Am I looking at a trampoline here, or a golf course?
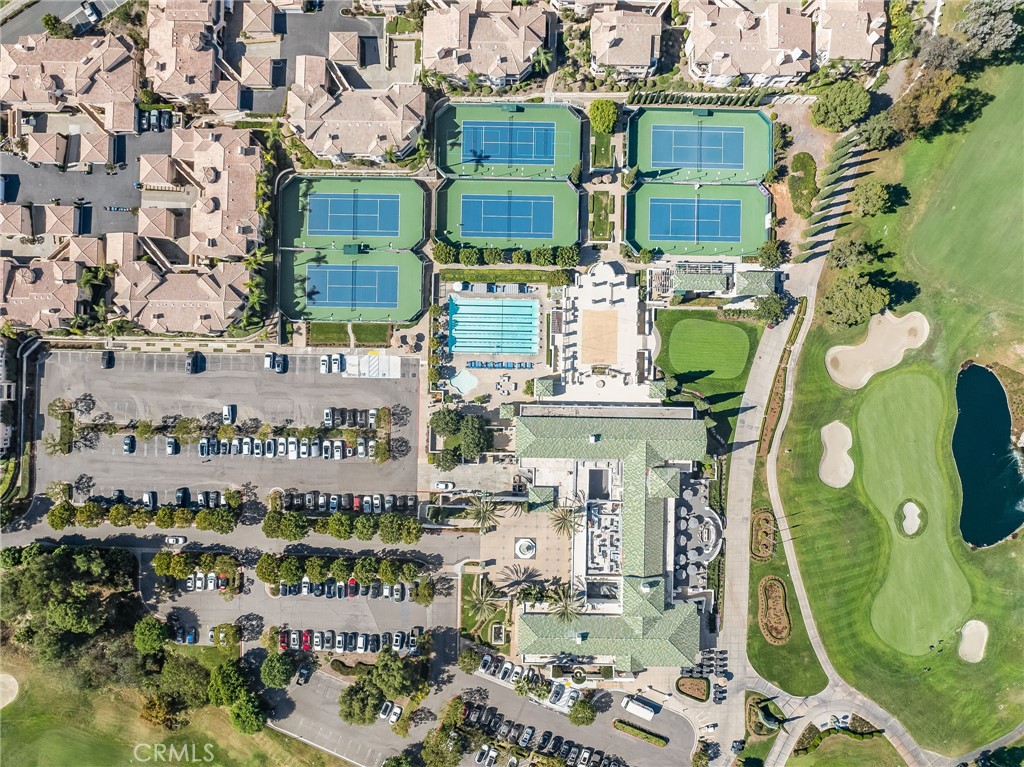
golf course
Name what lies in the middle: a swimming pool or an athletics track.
swimming pool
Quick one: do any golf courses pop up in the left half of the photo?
No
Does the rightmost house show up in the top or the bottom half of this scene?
top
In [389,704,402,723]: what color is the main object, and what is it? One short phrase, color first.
white vehicle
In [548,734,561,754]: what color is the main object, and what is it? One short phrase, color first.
black vehicle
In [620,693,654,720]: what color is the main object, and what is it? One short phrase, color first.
white vehicle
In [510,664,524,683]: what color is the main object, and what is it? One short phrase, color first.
white car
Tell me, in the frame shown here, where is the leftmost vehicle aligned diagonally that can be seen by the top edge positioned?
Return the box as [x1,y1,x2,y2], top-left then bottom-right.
[80,1,100,25]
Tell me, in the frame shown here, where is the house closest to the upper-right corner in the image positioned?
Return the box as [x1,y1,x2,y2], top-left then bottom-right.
[812,0,886,79]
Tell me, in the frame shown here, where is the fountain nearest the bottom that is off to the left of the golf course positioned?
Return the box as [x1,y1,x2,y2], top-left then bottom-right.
[516,539,535,558]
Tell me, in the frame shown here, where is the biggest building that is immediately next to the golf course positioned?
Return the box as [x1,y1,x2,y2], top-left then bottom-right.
[516,404,709,675]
